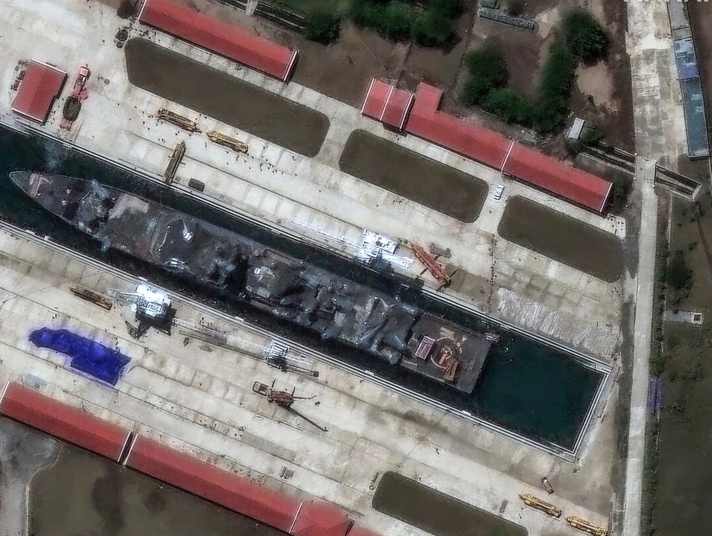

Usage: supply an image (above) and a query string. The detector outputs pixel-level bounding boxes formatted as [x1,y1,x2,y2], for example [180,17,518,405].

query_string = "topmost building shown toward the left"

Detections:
[139,0,297,81]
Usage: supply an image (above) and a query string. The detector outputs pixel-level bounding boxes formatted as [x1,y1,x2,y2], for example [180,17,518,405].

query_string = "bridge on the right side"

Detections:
[634,156,658,186]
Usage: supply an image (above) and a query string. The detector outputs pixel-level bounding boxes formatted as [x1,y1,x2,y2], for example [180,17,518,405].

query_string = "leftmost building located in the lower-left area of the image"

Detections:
[0,381,131,461]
